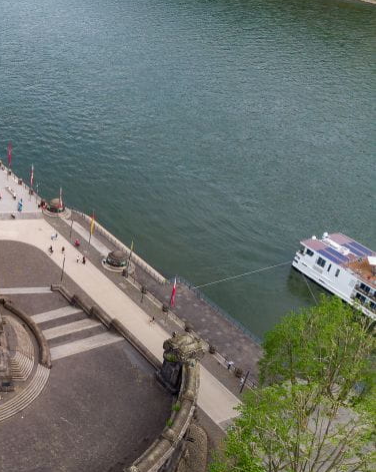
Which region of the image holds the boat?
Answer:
right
